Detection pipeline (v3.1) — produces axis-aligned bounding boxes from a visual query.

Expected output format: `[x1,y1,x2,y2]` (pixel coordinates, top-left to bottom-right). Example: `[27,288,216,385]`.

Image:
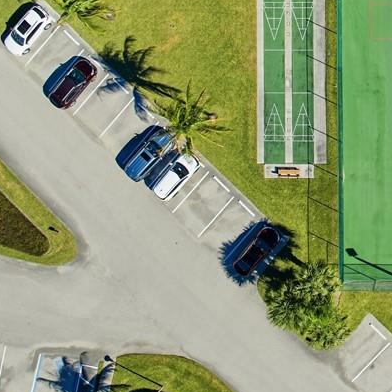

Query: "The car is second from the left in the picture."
[47,58,97,109]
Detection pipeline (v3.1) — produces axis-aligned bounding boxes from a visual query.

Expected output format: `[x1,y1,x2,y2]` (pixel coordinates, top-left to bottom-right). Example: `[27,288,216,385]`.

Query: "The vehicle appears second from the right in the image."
[153,153,201,204]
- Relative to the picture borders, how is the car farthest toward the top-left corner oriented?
diagonally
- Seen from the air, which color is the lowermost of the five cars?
black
